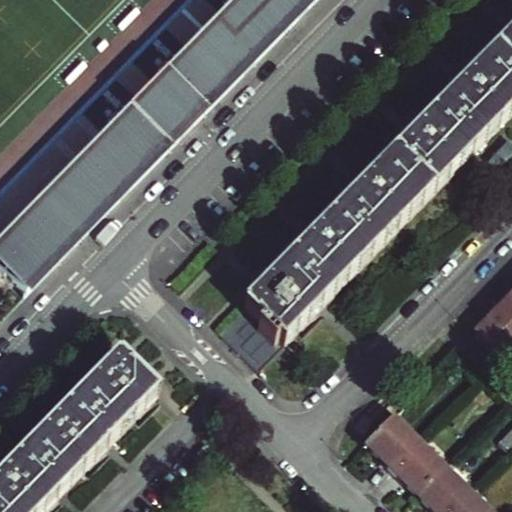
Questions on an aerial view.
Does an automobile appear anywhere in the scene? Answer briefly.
Yes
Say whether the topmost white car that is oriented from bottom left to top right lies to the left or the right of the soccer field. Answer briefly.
on the right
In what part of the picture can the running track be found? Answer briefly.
top left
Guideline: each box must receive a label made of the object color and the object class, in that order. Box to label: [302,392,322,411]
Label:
white car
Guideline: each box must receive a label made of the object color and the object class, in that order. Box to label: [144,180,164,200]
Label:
white car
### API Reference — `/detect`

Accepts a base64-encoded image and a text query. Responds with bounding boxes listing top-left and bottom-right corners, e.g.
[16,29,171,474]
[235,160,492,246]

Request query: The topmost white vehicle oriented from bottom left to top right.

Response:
[234,88,254,107]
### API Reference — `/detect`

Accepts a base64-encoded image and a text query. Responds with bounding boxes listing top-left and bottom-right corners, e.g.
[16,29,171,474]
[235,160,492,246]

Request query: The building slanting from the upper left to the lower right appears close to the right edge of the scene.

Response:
[366,415,494,512]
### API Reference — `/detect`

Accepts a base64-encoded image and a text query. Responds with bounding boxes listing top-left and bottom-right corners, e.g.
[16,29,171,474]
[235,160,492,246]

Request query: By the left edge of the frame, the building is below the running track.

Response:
[0,341,162,512]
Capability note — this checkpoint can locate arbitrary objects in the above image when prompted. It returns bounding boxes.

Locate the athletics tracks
[0,0,177,178]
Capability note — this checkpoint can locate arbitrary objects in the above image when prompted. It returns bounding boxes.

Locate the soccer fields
[0,0,156,154]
